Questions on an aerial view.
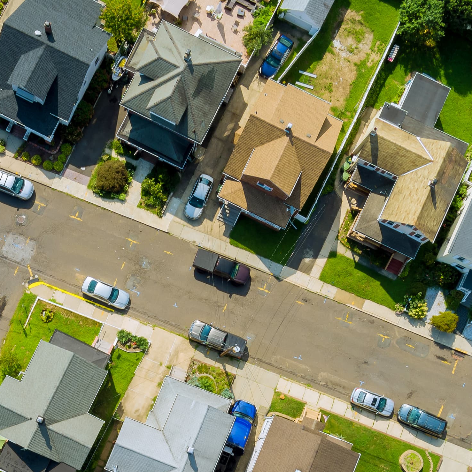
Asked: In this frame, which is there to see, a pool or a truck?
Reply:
truck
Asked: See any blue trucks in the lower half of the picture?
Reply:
Yes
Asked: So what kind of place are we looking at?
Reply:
residential area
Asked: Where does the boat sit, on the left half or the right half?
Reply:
left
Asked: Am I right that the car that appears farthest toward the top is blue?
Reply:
Yes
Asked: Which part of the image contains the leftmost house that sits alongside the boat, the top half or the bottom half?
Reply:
top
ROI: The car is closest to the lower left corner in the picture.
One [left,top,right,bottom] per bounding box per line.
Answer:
[80,277,131,309]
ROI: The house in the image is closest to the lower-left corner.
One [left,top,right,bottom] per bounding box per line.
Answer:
[0,328,111,472]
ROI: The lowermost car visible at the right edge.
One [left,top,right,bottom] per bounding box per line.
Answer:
[395,405,450,438]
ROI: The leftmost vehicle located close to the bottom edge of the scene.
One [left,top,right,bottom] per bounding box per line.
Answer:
[216,395,261,472]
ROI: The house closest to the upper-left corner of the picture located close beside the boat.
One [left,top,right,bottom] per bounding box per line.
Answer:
[0,0,113,150]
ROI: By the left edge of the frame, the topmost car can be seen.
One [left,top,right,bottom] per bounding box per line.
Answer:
[0,170,35,201]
